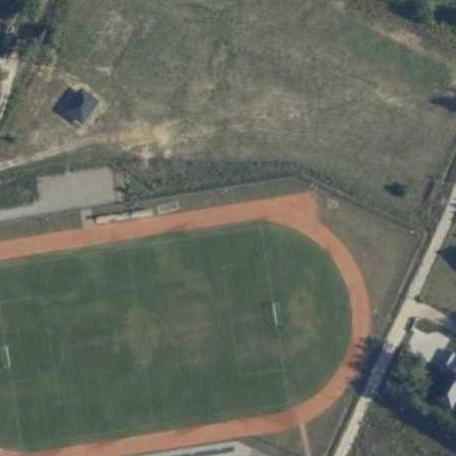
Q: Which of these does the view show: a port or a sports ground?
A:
sports ground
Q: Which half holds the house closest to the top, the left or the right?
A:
left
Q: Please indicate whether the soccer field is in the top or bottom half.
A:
bottom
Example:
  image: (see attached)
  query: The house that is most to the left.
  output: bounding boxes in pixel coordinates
[65,89,97,122]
